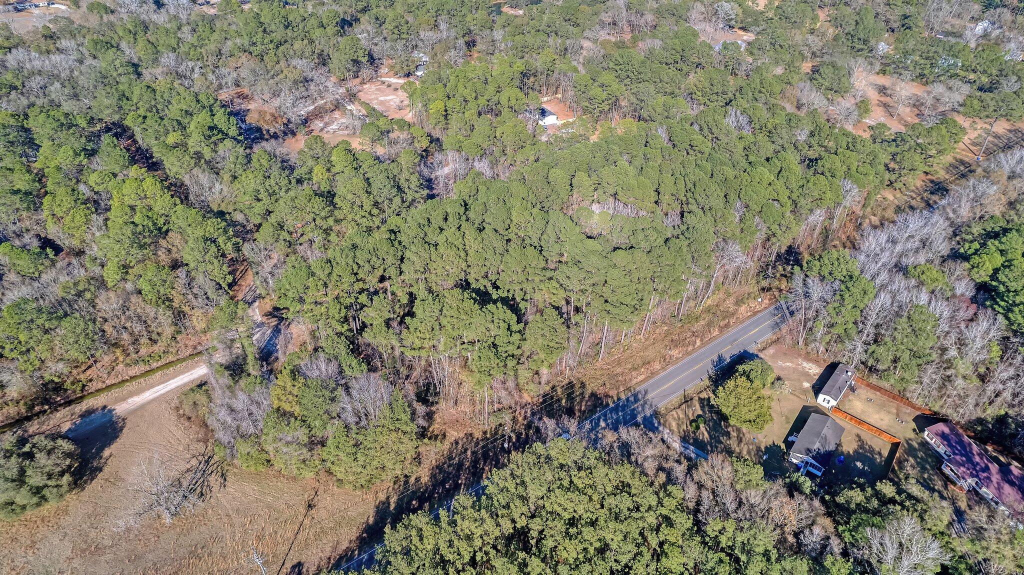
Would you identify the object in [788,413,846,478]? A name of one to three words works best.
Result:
house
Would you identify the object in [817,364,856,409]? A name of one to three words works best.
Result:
house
